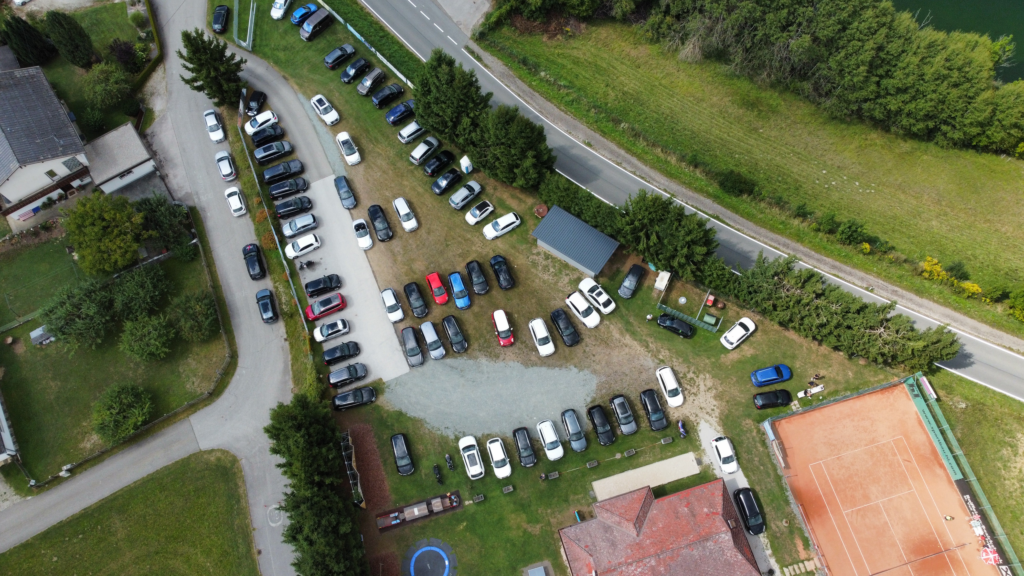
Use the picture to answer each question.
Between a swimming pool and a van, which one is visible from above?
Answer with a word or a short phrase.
van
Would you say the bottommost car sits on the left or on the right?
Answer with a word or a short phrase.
right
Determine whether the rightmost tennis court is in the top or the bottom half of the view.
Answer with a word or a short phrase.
bottom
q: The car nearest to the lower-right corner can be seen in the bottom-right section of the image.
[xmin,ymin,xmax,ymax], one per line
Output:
[735,487,765,535]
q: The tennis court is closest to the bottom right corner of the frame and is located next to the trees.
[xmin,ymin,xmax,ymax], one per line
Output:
[769,383,1000,576]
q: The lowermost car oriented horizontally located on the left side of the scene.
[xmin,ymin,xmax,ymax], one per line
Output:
[332,386,377,412]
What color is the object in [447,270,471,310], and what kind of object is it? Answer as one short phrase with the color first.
blue car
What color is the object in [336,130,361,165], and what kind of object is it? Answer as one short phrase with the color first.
white car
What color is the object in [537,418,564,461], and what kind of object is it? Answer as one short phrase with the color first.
white car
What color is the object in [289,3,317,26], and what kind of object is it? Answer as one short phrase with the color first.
blue car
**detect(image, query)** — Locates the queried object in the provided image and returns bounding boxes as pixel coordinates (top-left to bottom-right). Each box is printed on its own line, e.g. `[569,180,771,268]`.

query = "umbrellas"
[964,515,981,522]
[976,547,1000,568]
